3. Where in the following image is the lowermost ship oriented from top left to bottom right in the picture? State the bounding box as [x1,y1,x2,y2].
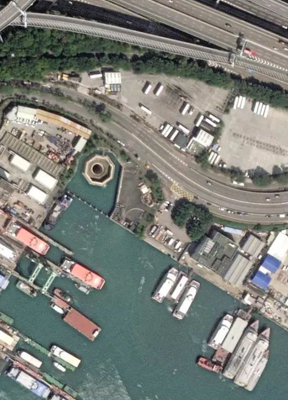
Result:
[6,366,52,398]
